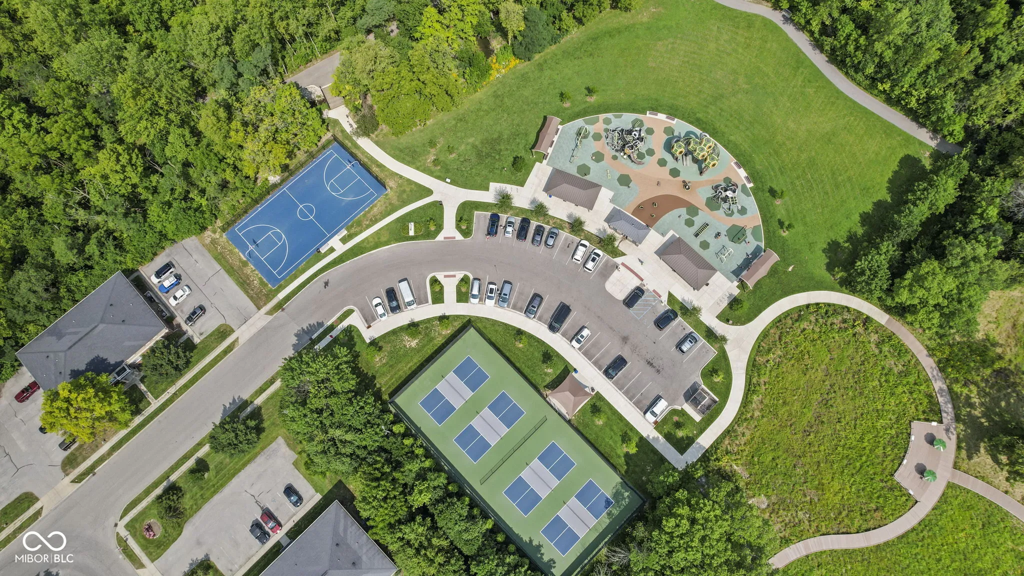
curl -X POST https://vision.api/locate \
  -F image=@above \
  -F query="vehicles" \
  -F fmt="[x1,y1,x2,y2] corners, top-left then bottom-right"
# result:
[585,249,603,271]
[545,227,558,247]
[573,239,589,262]
[468,278,481,303]
[531,223,544,246]
[504,215,515,237]
[606,354,627,378]
[167,283,190,304]
[33,413,58,434]
[258,511,280,535]
[526,292,543,318]
[498,281,512,306]
[549,303,570,332]
[397,277,416,308]
[183,303,205,325]
[158,273,180,292]
[371,295,387,319]
[246,522,269,547]
[656,308,677,330]
[623,284,645,310]
[677,330,700,355]
[646,396,669,423]
[516,216,530,241]
[572,326,591,348]
[485,283,497,305]
[281,484,303,510]
[487,213,499,235]
[13,380,38,402]
[386,288,400,312]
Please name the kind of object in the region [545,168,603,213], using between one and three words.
building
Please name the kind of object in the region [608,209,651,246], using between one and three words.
building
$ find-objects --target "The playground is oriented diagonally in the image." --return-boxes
[546,114,764,283]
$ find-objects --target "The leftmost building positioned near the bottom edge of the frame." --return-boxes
[259,500,398,576]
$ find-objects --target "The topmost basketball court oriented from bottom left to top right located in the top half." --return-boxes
[224,142,387,288]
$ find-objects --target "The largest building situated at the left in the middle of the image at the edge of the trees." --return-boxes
[16,271,169,413]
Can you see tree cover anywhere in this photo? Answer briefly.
Yes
